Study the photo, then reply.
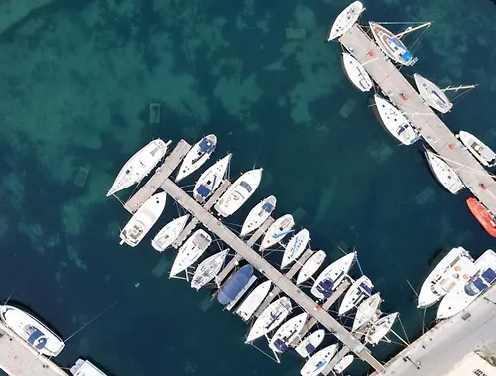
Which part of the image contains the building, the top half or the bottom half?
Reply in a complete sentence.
It is in the bottom half that the building appears.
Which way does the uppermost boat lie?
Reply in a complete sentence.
The uppermost boat has been laid out at an angle relative to the frame.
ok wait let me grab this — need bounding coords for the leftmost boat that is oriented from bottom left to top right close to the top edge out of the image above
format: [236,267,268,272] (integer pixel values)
[327,3,370,40]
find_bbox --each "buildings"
[456,351,496,376]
